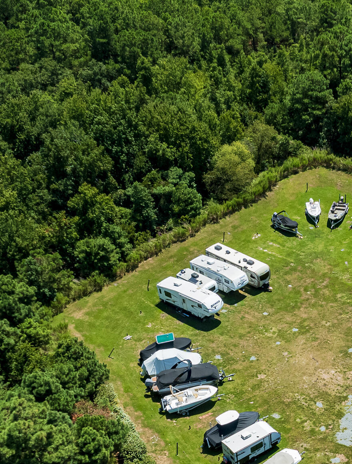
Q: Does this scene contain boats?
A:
Yes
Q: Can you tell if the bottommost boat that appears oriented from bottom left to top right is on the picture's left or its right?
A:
right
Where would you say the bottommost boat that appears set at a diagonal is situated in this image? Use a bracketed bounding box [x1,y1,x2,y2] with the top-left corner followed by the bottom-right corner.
[202,409,259,451]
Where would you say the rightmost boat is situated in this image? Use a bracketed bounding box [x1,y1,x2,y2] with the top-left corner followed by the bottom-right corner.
[327,194,347,219]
